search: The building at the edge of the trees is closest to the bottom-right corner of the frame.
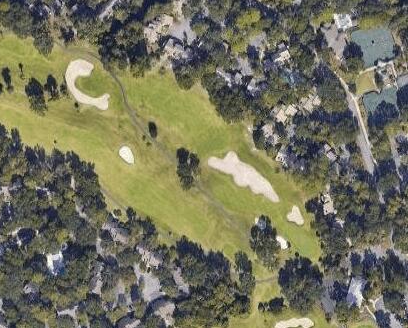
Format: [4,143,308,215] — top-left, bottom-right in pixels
[343,275,368,308]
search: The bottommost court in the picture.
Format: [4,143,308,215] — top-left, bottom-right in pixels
[360,84,400,121]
